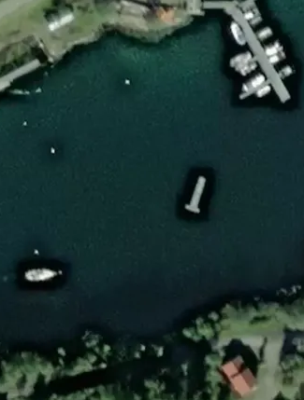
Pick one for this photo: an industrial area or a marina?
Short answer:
marina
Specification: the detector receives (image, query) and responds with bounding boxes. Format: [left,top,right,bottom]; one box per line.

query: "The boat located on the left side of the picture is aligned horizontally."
[24,269,58,281]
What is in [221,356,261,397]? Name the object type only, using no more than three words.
barn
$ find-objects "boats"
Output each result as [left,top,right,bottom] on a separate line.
[257,85,271,96]
[242,63,256,73]
[244,74,266,90]
[258,28,272,39]
[244,12,254,21]
[231,49,250,63]
[232,23,246,46]
[250,17,262,25]
[24,269,58,281]
[268,54,283,64]
[234,58,250,70]
[265,44,281,57]
[279,68,292,77]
